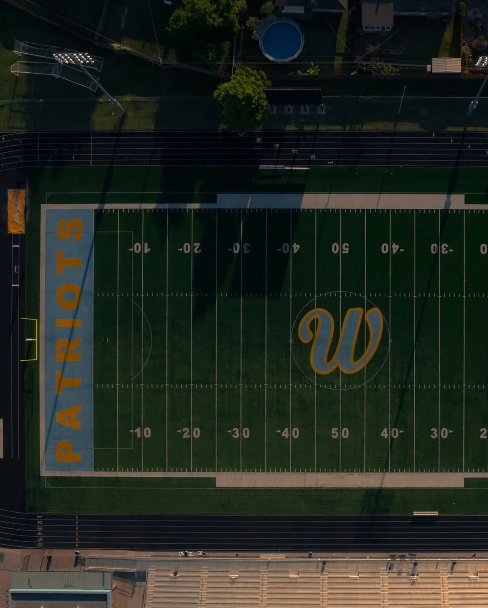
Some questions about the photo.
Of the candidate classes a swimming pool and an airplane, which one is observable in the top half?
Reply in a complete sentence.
The feature located in the top half is a swimming pool.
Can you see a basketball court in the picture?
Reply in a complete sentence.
No, the picture doesn't show any basketball court.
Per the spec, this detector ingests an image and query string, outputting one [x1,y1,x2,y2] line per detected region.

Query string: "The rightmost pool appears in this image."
[257,13,304,63]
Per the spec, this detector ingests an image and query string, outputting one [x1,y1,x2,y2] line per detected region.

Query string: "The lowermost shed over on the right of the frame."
[431,57,460,74]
